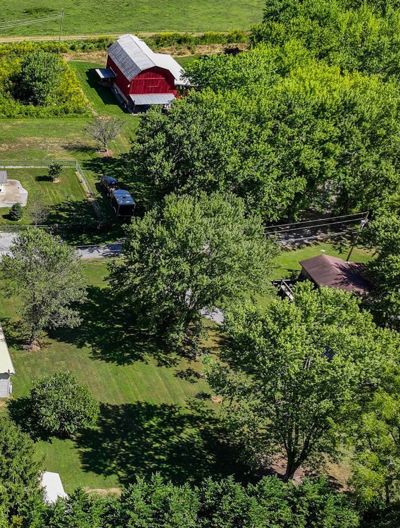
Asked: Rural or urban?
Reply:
rural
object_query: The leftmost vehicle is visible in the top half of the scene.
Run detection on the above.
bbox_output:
[99,177,119,195]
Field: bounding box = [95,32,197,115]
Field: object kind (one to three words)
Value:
barn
